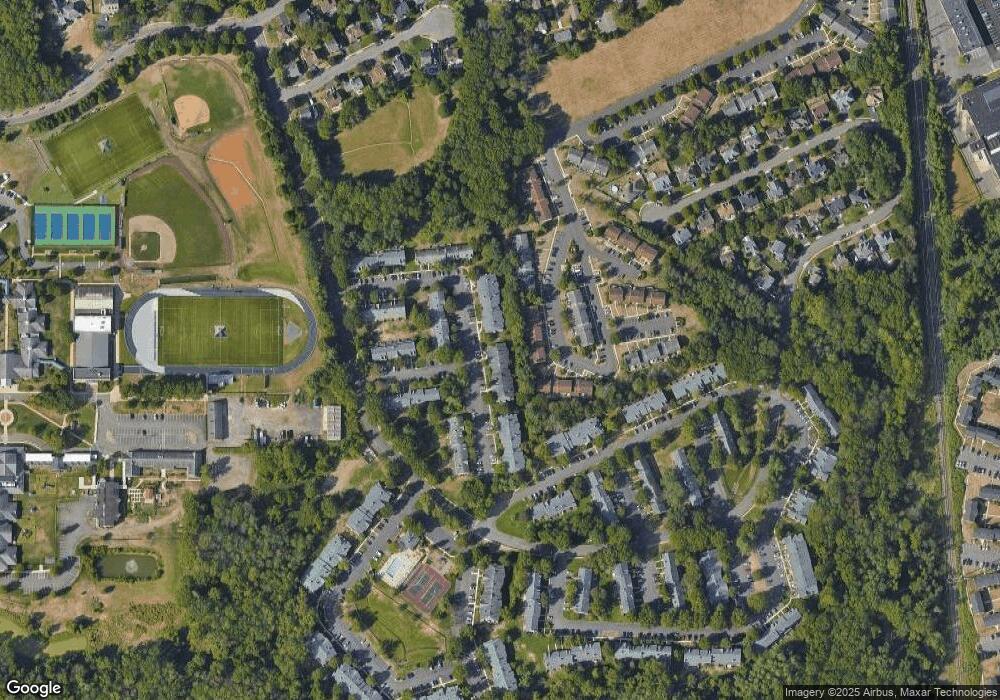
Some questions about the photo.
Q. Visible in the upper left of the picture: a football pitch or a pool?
football pitch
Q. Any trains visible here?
No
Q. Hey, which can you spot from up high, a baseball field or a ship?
baseball field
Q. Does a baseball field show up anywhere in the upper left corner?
Yes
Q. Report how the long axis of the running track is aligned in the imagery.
horizontally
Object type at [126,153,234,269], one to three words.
baseball field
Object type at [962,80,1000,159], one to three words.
building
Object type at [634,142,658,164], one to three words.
house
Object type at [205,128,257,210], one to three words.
baseball field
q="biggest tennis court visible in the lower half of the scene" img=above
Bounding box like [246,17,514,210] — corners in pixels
[403,564,450,612]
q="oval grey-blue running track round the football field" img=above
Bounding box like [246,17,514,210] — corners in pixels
[121,288,318,374]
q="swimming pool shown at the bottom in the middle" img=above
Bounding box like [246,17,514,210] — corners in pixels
[379,550,425,588]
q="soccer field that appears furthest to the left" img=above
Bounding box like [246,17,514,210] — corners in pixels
[41,94,165,195]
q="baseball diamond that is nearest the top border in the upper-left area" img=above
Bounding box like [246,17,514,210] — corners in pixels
[165,62,243,135]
